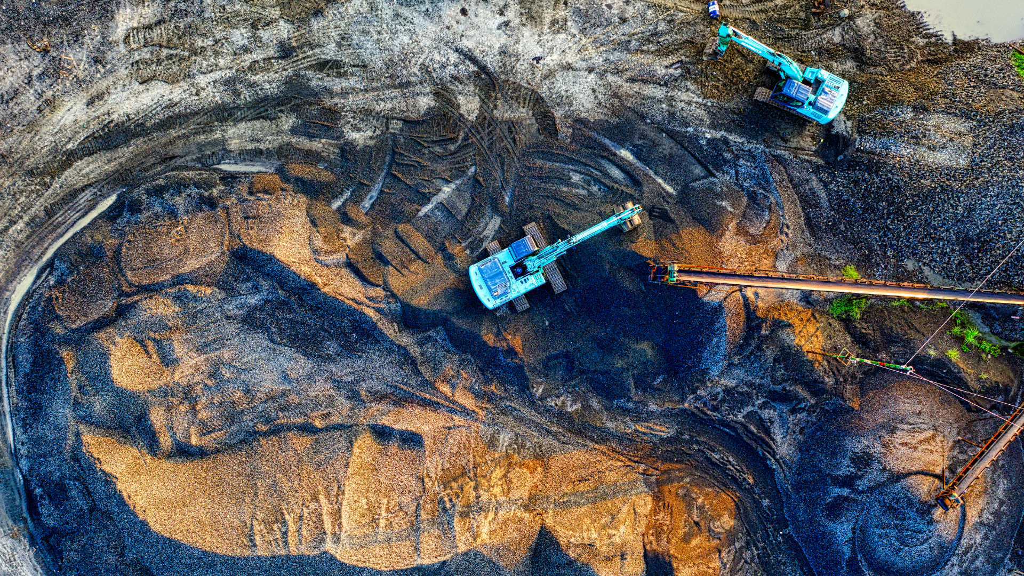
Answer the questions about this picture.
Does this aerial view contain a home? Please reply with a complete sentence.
No, I can see no home in this picture.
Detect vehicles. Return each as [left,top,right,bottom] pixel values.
[472,200,647,314]
[699,11,853,137]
